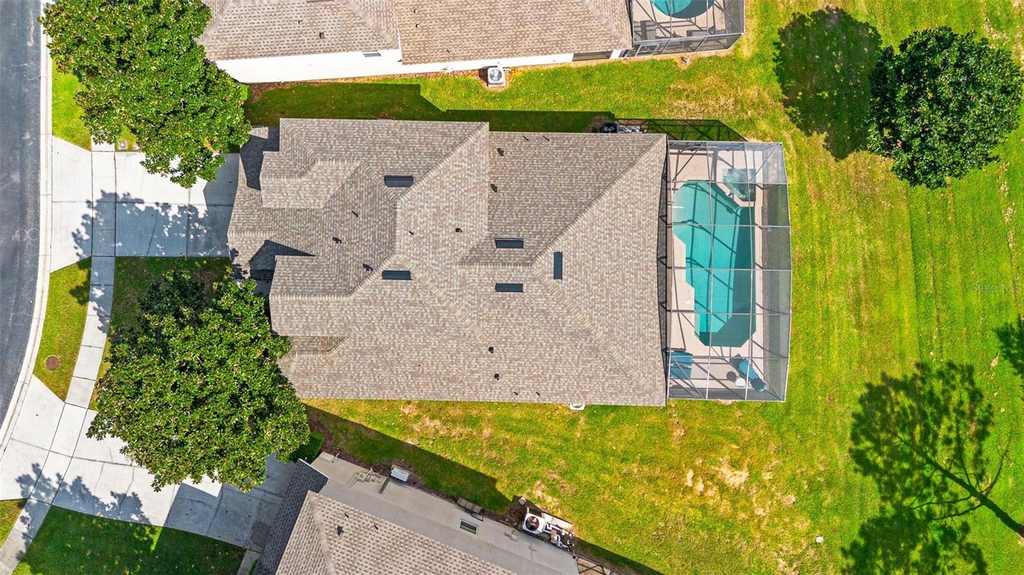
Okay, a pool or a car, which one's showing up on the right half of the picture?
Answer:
pool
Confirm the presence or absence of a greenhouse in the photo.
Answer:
No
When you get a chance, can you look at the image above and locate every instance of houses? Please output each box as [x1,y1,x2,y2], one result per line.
[227,118,669,406]
[250,452,581,575]
[176,0,632,84]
